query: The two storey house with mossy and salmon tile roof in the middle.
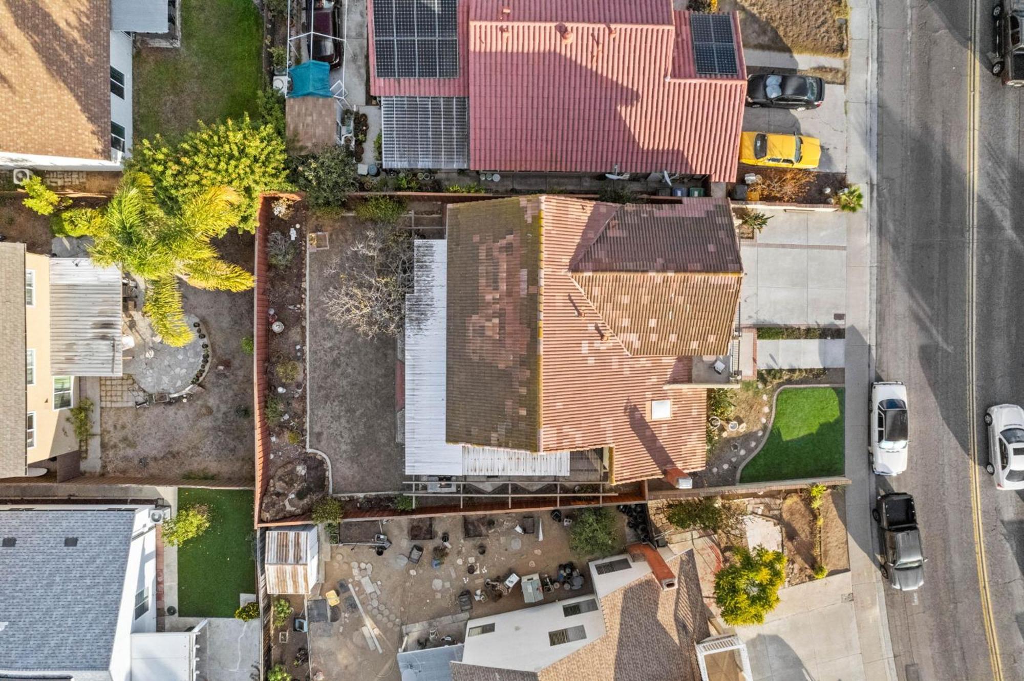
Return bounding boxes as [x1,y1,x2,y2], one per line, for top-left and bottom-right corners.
[445,194,746,493]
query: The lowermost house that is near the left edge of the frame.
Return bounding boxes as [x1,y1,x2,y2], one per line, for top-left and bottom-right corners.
[0,504,157,681]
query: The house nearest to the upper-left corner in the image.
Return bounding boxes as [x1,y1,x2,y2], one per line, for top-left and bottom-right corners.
[0,0,133,168]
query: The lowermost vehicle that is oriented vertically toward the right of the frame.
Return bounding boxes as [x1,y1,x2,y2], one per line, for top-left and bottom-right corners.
[872,489,925,589]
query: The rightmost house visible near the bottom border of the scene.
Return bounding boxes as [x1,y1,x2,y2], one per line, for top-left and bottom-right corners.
[452,532,710,681]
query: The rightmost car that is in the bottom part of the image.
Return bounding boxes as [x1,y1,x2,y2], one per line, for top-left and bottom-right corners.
[981,401,1024,490]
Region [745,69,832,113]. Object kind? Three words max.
car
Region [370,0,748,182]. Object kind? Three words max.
house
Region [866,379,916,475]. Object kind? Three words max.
car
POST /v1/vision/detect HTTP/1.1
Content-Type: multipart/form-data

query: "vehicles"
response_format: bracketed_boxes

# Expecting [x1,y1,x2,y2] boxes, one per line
[740,129,821,169]
[981,401,1024,490]
[305,0,344,71]
[866,379,916,475]
[745,69,832,113]
[991,0,1024,91]
[872,489,925,589]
